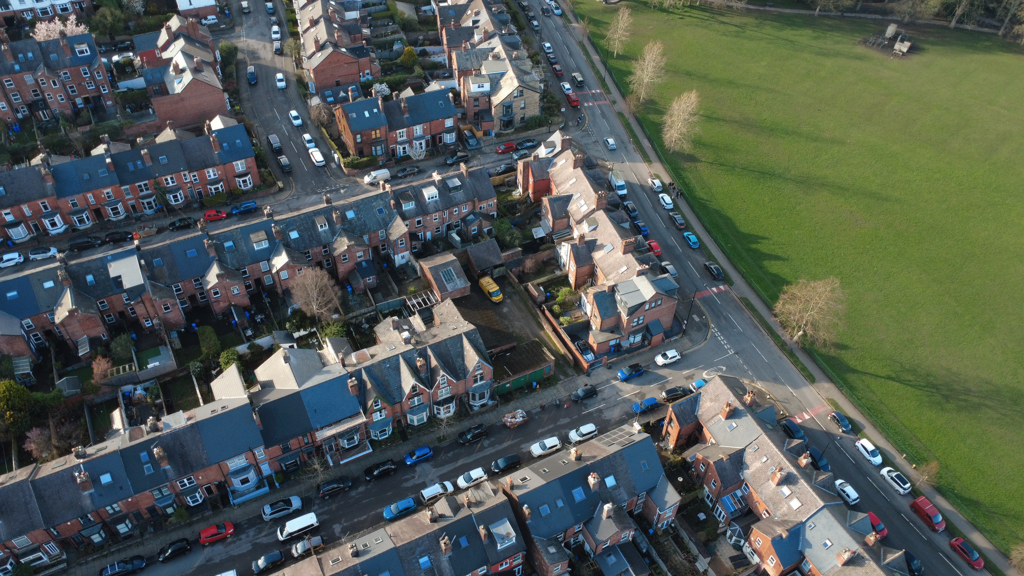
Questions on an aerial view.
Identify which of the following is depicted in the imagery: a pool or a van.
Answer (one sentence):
Of the two, only a van appears.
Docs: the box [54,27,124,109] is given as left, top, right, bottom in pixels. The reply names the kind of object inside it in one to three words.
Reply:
house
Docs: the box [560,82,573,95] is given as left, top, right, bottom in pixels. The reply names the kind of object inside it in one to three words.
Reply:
vehicle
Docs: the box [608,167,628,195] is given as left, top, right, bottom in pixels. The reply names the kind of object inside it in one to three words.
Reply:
vehicle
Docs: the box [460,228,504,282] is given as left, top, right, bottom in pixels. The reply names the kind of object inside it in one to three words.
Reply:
building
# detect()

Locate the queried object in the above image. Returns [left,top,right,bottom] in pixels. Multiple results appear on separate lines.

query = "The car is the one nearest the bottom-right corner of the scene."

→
[949,536,984,571]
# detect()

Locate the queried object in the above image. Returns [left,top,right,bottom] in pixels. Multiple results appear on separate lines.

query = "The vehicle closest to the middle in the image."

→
[479,275,502,305]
